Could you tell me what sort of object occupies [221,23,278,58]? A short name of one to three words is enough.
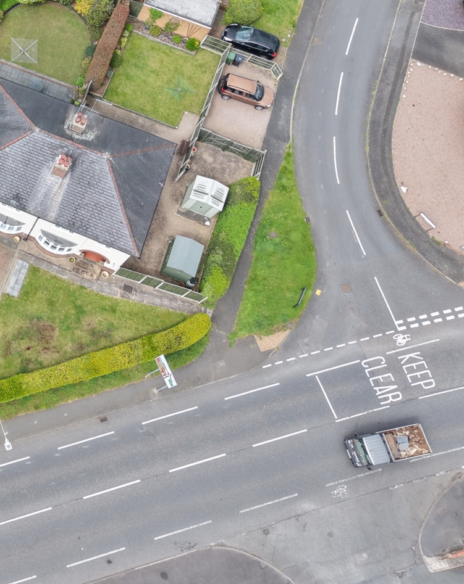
car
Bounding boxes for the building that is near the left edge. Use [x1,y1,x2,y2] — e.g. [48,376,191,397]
[0,75,178,271]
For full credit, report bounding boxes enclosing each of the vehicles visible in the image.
[221,23,278,58]
[218,72,274,109]
[337,422,434,471]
